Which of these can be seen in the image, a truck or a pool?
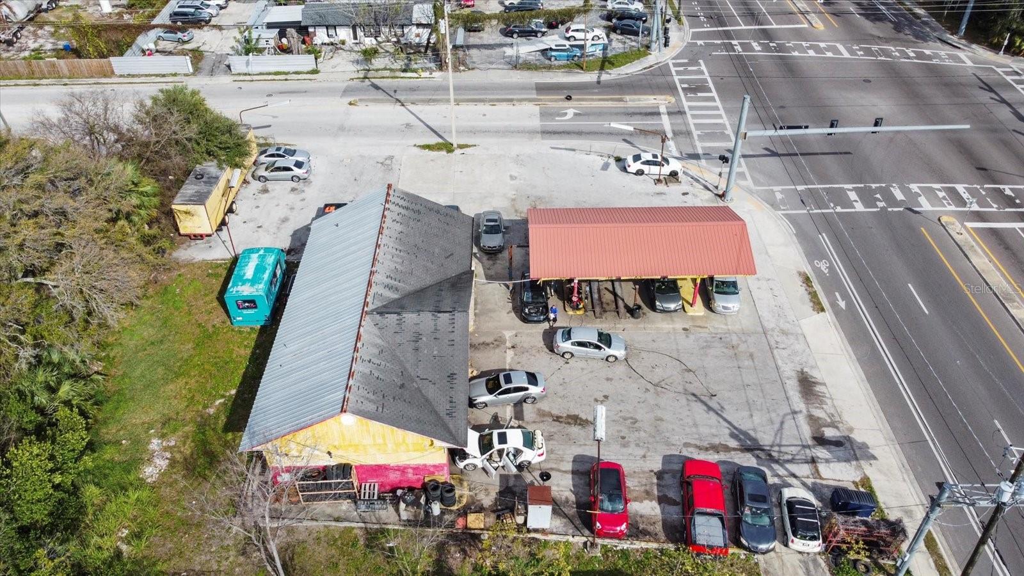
truck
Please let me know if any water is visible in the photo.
No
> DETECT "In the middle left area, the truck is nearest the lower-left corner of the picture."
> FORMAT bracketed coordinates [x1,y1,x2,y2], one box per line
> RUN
[225,253,289,327]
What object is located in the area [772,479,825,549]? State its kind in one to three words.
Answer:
car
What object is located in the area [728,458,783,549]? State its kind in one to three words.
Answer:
car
